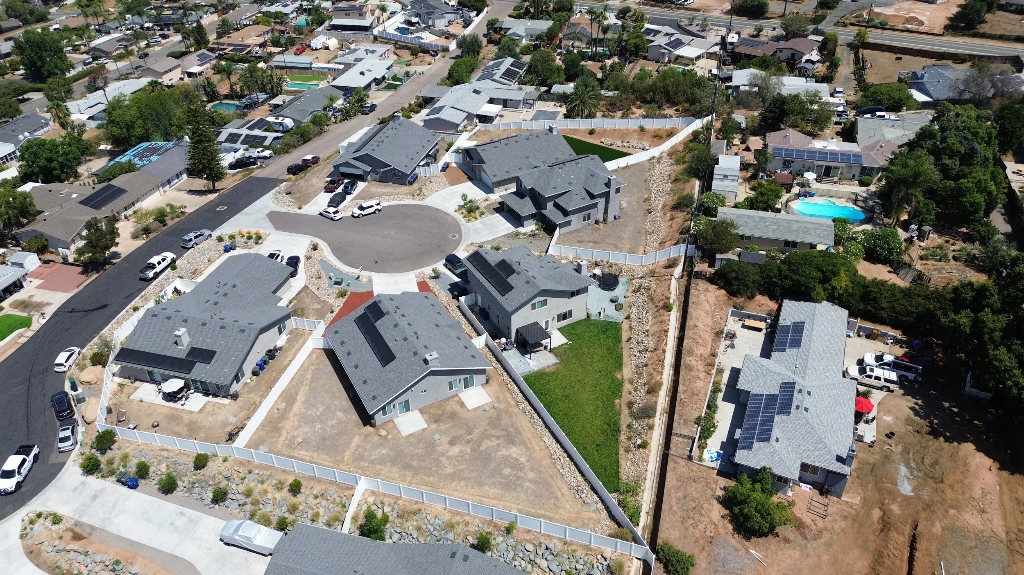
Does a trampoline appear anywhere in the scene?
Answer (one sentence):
Yes, a trampoline is visible in the scene.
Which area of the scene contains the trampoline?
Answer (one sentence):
You can find the trampoline in the center area of the picture.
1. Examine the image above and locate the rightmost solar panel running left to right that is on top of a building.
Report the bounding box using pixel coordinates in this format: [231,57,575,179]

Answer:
[774,148,863,160]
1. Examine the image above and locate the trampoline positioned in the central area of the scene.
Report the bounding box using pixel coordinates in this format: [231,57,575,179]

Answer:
[599,269,623,295]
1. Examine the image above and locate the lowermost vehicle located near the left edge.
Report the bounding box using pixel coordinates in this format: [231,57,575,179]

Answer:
[0,444,48,499]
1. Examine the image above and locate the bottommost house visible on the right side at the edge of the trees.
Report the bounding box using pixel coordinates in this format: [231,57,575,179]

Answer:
[733,297,861,497]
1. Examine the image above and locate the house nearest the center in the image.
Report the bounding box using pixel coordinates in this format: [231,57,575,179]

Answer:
[460,242,595,349]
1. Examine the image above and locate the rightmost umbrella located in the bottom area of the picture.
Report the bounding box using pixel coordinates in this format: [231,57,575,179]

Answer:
[860,399,883,415]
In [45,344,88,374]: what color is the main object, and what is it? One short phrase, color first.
white car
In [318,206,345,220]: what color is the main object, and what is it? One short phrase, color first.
white car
